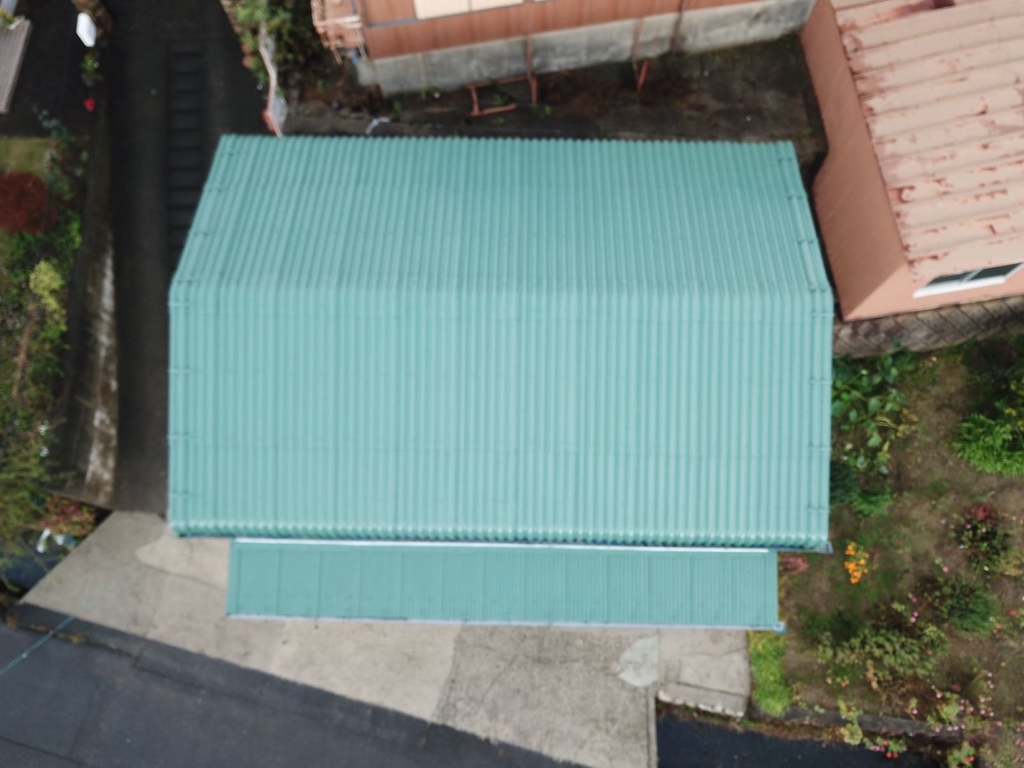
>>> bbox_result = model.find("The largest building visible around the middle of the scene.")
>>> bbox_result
[166,135,836,553]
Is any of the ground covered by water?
No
